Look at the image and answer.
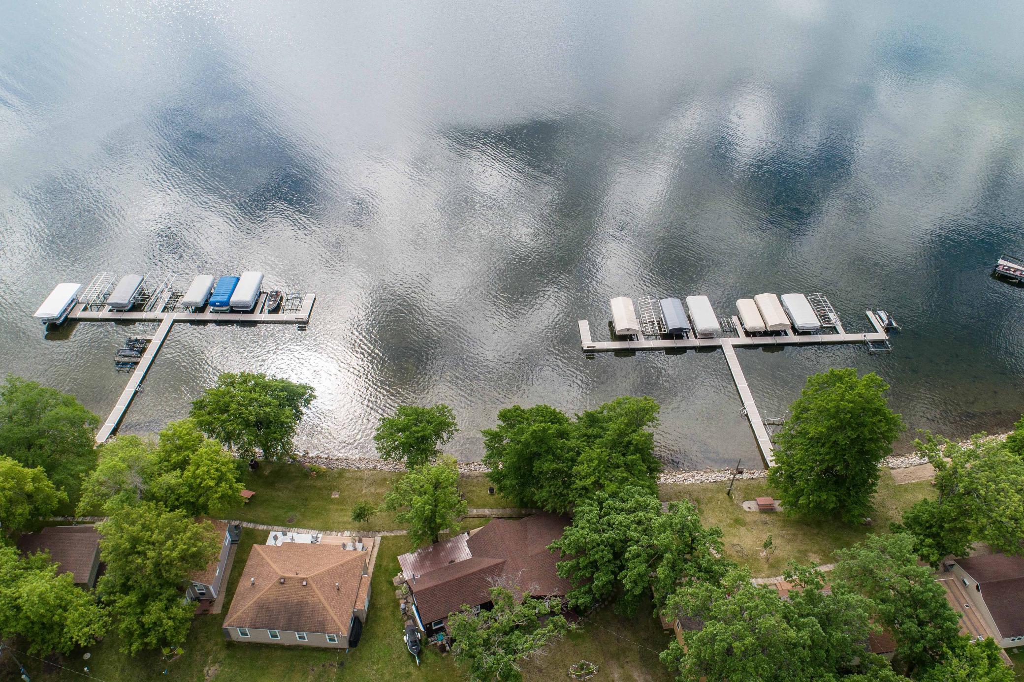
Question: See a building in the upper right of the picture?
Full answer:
No, no building can be made out in the upper right of the picture.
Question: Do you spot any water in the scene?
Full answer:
Yes, some water is visible.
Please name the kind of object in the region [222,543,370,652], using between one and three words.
house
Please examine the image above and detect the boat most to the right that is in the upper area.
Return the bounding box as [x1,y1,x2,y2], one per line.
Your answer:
[992,259,1024,281]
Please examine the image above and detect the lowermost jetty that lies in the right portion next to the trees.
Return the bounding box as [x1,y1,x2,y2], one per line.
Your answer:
[578,308,889,469]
